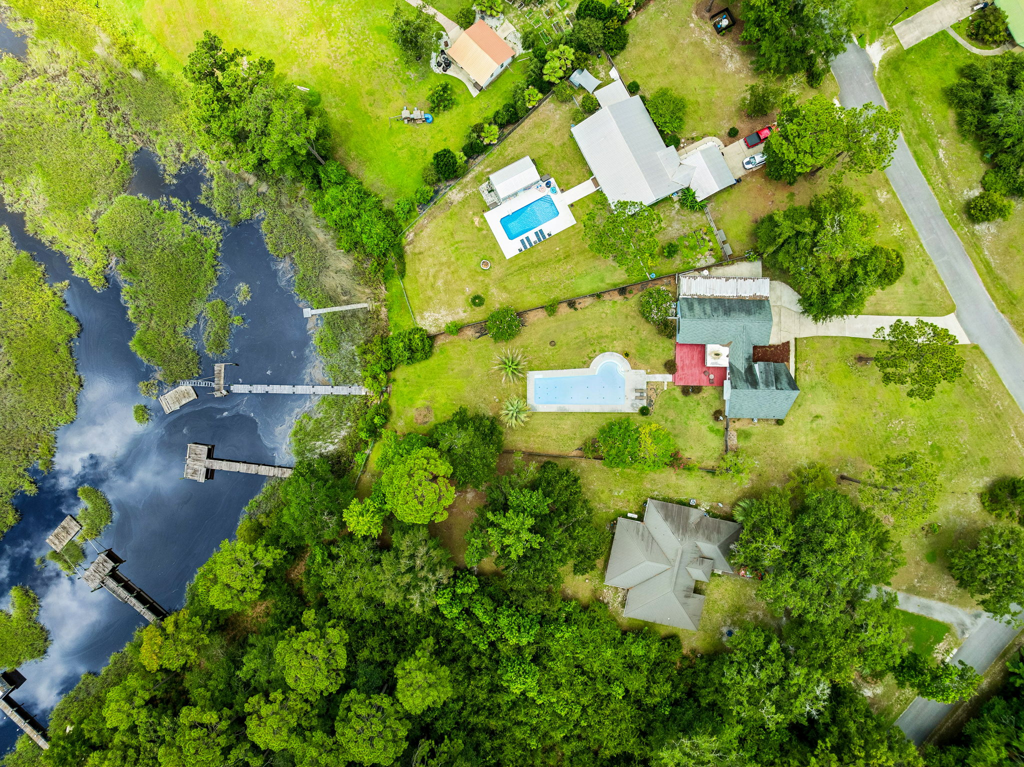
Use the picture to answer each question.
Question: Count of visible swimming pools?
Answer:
two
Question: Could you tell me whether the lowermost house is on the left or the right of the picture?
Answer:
right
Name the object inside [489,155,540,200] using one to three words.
building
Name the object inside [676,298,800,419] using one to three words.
house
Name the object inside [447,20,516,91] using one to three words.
house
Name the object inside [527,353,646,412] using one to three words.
swimming pool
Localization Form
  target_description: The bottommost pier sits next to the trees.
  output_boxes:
[0,671,44,749]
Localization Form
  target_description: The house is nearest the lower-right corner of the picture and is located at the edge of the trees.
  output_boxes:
[604,498,743,632]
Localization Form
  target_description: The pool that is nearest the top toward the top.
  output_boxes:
[484,178,593,259]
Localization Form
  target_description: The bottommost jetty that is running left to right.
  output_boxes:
[184,443,286,483]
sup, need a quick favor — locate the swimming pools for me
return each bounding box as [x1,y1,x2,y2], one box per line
[484,178,593,259]
[527,353,646,412]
